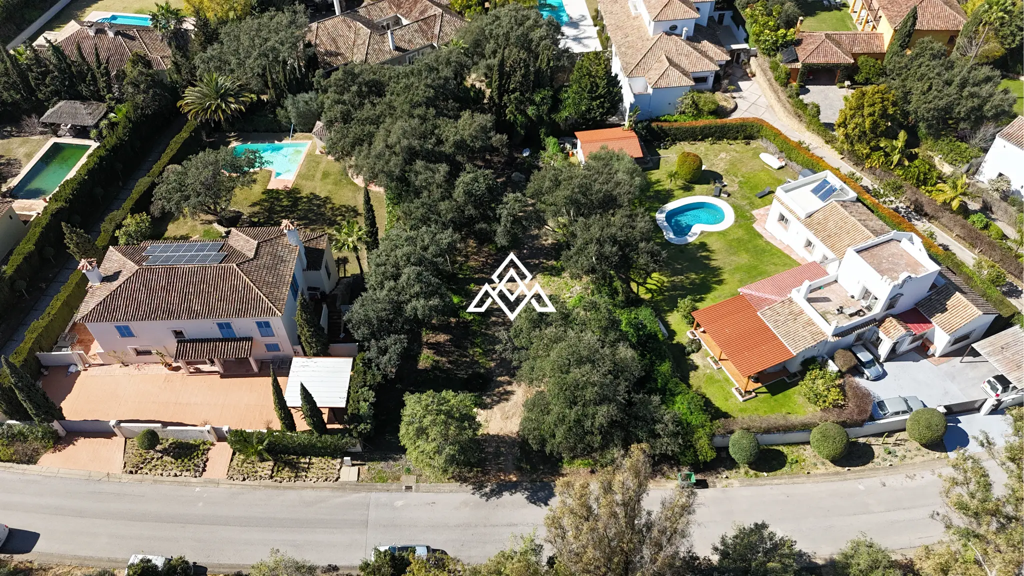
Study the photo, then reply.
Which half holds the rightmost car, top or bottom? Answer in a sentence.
The bottom half of the photo is where the rightmost car is.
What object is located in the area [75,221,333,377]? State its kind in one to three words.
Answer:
house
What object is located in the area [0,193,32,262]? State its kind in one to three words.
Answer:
house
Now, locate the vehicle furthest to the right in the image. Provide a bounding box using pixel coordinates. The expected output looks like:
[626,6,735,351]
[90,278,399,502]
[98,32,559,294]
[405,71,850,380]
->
[980,371,1018,400]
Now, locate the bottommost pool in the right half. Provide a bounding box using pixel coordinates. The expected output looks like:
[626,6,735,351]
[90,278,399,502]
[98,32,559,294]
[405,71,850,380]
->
[656,195,735,244]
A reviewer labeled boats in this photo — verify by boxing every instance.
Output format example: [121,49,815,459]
[758,150,785,168]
